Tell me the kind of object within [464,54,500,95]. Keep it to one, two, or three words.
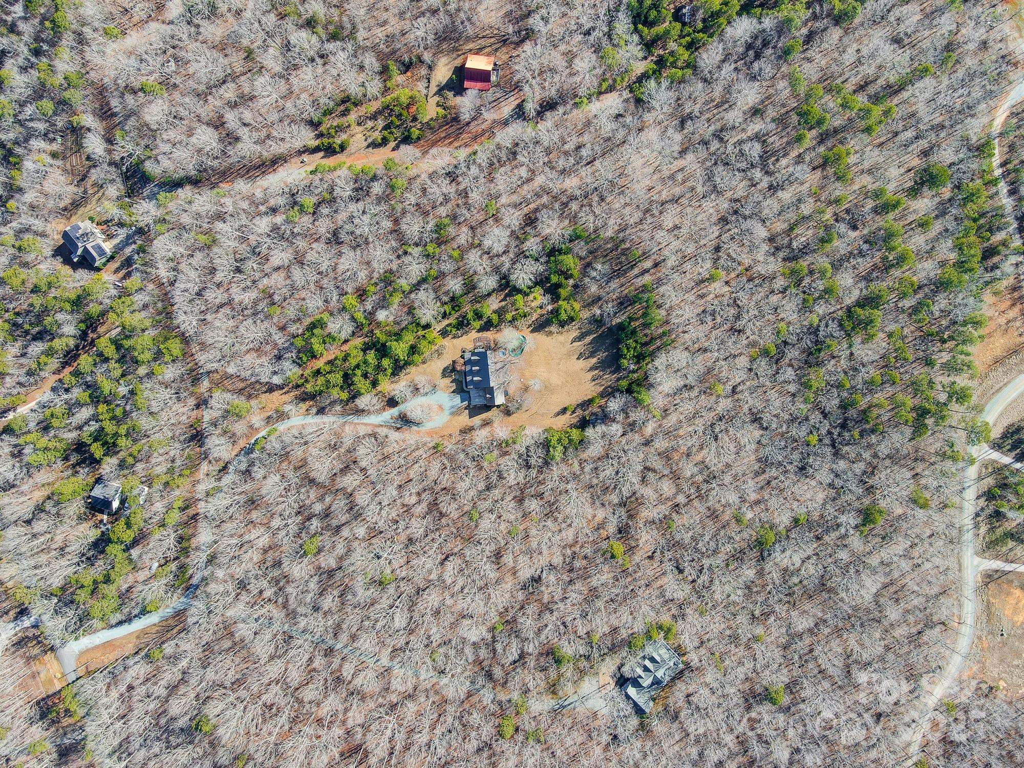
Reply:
barn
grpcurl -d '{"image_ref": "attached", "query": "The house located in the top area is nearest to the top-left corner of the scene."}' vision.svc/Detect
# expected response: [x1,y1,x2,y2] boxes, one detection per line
[63,222,116,267]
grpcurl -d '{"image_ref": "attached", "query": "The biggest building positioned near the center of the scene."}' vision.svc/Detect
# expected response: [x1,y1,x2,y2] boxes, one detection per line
[462,349,509,405]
